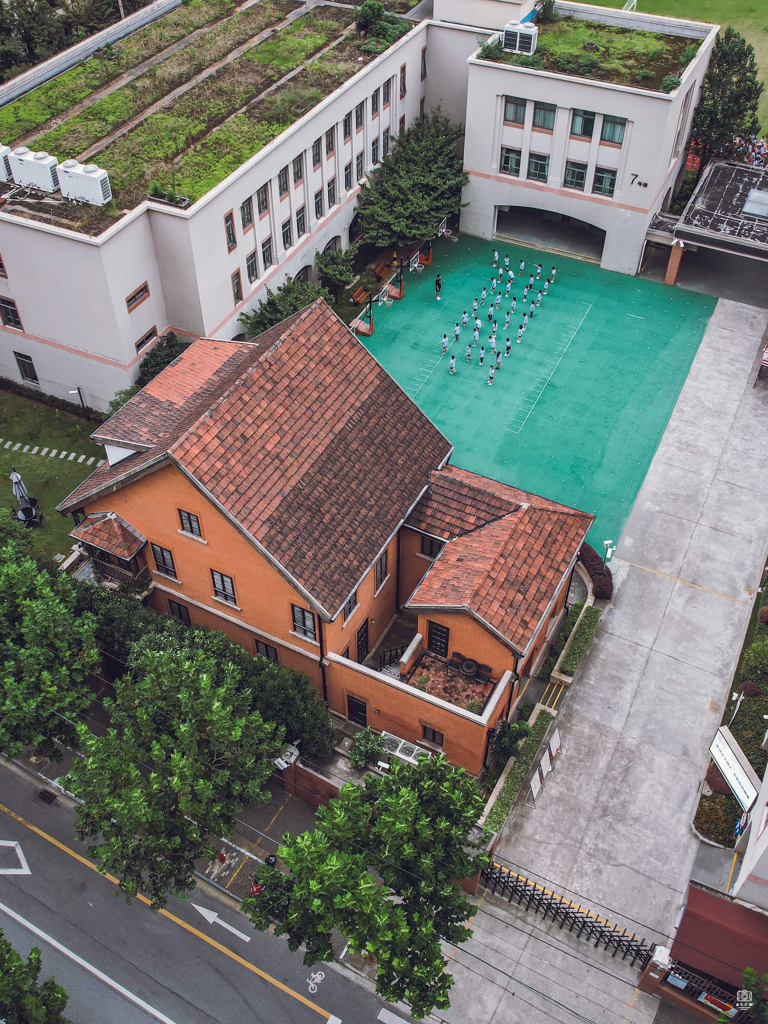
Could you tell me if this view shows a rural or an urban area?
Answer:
urban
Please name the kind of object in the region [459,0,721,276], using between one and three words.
building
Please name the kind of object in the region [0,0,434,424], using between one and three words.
building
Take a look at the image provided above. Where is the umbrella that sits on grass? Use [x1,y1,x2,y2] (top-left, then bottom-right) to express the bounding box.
[10,465,33,508]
